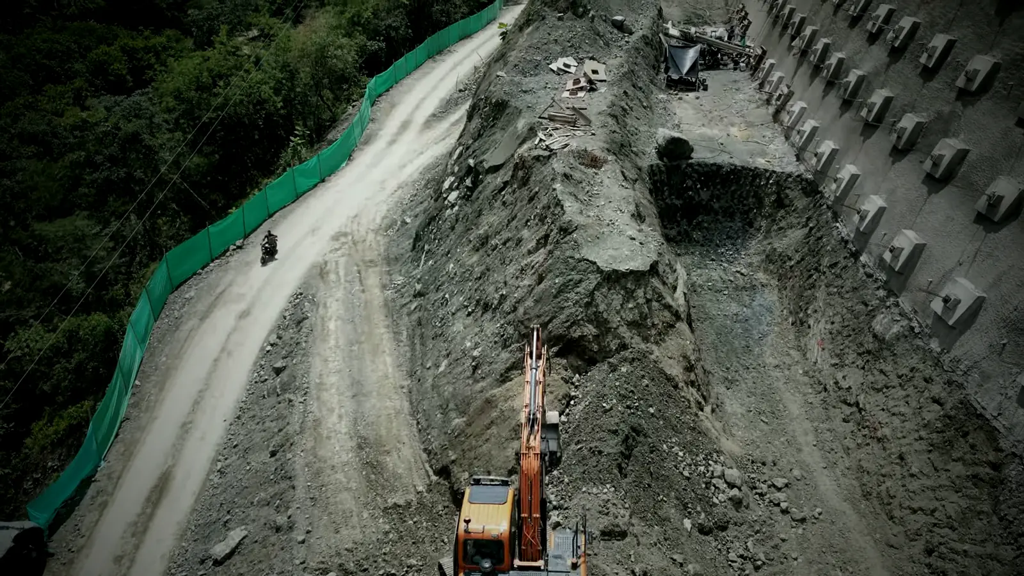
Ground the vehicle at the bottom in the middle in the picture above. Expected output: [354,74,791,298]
[434,316,599,576]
